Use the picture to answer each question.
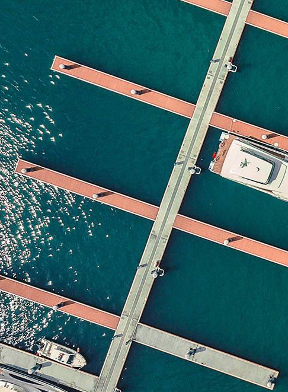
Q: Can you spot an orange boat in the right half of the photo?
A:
No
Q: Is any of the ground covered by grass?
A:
No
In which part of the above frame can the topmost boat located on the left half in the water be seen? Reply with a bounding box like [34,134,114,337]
[36,340,88,367]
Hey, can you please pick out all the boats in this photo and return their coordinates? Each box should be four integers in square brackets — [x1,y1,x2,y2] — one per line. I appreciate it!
[209,133,288,202]
[36,340,88,367]
[0,362,68,392]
